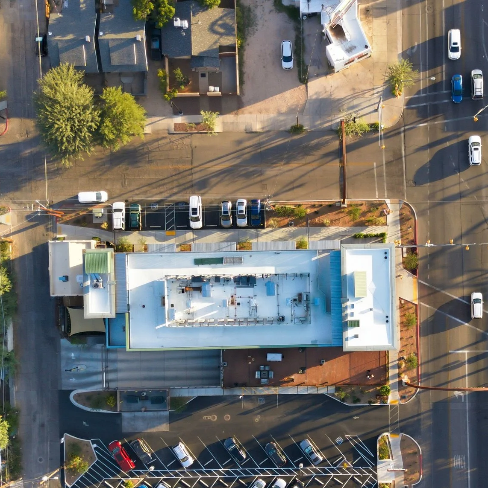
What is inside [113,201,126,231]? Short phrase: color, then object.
white vehicle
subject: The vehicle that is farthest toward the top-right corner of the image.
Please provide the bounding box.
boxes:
[447,28,462,59]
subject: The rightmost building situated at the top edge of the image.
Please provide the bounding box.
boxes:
[321,0,370,70]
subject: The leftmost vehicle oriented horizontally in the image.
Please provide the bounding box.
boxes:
[77,190,108,203]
